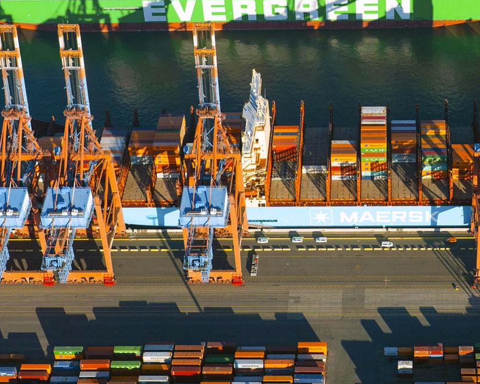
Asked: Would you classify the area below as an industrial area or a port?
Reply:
port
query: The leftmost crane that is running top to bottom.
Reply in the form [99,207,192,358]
[0,19,69,286]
